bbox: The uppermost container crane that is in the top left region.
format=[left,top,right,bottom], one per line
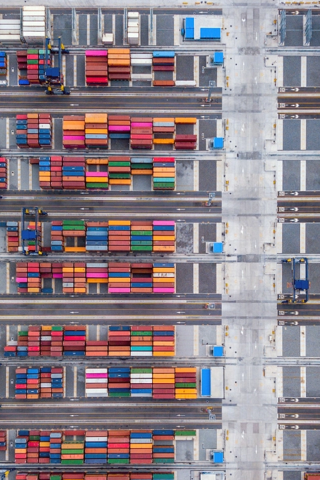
[44,37,72,96]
